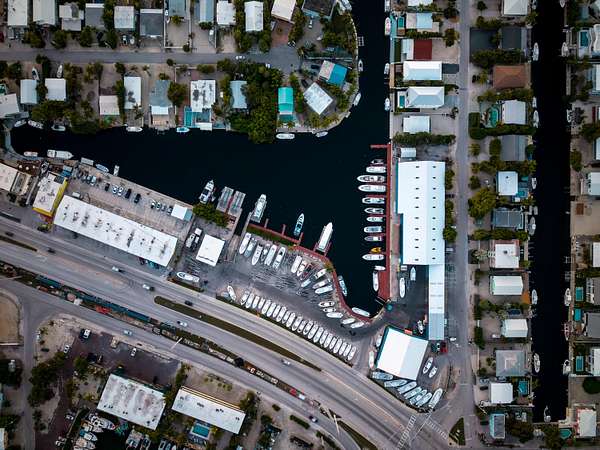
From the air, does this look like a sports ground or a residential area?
residential area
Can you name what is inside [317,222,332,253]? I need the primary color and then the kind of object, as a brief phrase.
white boat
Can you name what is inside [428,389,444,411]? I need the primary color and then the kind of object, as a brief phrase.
white boat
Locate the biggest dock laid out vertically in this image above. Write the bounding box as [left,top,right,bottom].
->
[378,143,391,303]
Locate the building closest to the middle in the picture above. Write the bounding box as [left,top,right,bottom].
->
[196,234,224,266]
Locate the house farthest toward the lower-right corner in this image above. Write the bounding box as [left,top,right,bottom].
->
[575,407,596,437]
